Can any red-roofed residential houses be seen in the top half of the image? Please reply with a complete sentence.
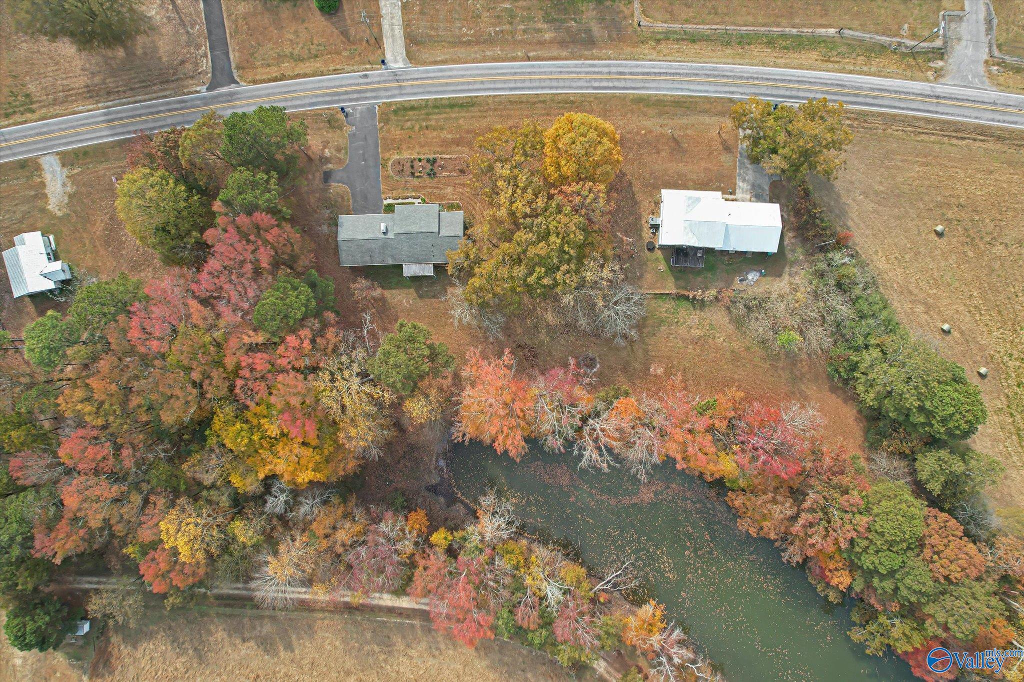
No, looking in the top half of the image, there is no red-roofed residential house.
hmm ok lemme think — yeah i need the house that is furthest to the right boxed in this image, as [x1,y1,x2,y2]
[658,189,782,252]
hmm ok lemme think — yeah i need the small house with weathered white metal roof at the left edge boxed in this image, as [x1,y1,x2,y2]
[2,231,74,299]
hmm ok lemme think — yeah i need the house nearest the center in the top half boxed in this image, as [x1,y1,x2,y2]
[337,203,464,267]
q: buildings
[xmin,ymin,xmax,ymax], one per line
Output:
[337,203,464,267]
[68,621,86,638]
[2,231,74,299]
[658,189,782,252]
